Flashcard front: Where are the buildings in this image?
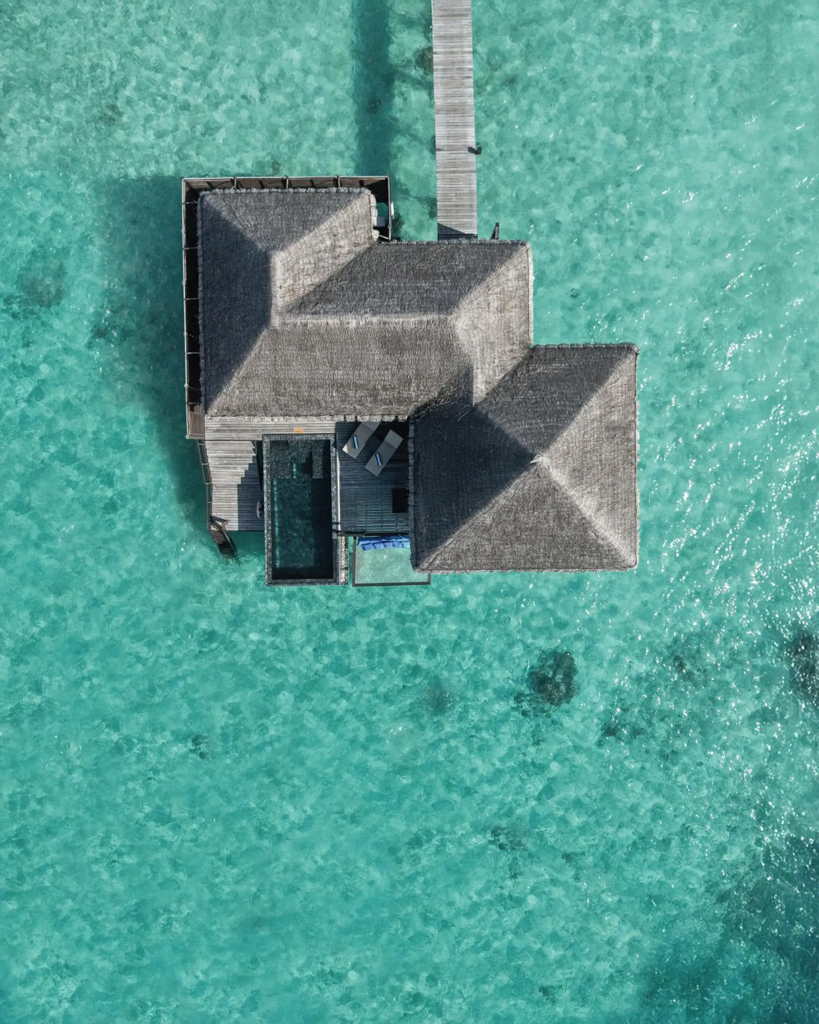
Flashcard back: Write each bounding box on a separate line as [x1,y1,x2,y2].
[193,186,642,573]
